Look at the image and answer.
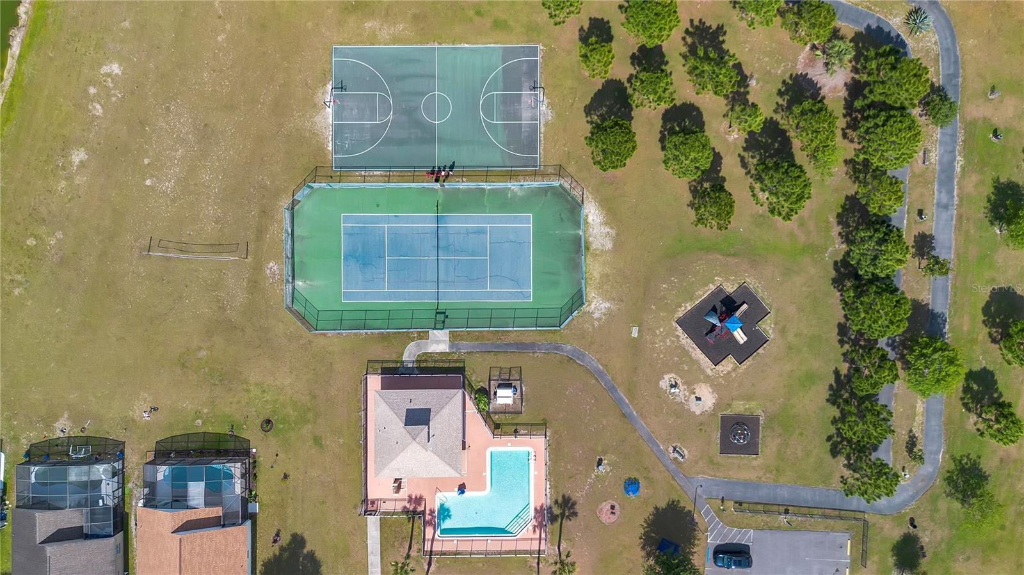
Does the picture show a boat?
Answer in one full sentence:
No, there appears to be no boat in this shot.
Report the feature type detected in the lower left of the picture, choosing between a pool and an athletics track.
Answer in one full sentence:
The one visible in the lower left of the picture is a pool.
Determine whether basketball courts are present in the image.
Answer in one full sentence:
Yes, looking at the shot, I can spot a basketball court.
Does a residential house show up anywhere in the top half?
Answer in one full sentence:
No, no residential house is visible in the top half.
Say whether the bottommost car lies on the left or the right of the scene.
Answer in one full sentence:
You can find the bottommost car on the right side of the picture.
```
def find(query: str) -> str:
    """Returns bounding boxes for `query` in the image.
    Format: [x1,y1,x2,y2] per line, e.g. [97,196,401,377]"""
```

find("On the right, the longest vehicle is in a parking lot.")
[711,548,750,569]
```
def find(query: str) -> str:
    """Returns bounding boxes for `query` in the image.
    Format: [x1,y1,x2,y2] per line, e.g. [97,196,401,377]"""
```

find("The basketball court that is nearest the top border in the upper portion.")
[332,45,540,170]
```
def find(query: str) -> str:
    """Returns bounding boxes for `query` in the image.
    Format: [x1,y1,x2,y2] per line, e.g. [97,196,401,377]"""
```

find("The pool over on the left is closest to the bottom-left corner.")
[36,464,111,491]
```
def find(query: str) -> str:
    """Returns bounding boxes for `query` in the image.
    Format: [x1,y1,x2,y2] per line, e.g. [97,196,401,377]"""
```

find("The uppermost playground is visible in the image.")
[676,282,771,366]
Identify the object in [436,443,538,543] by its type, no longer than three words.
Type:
swimming pool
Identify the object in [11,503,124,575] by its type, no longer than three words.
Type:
house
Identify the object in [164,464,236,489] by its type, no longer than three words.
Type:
swimming pool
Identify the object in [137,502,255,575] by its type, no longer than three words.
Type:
house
